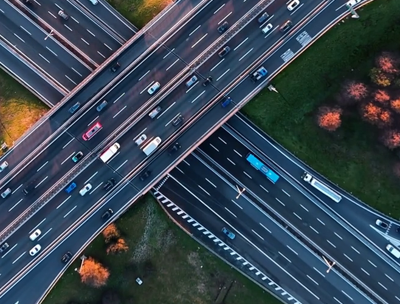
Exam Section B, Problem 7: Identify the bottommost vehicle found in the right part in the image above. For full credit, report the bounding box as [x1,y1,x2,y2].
[385,244,400,260]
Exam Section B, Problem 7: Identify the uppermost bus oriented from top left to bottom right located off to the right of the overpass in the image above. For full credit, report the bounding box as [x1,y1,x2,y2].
[245,153,279,183]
